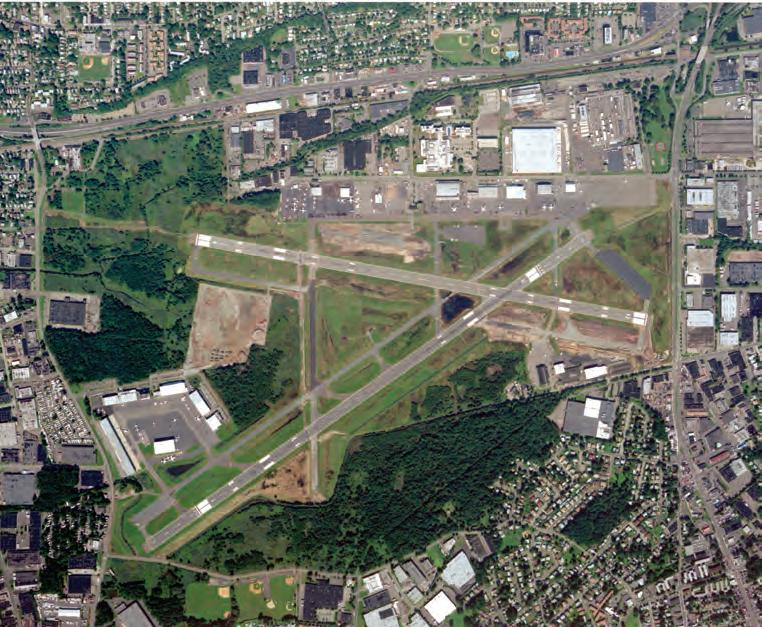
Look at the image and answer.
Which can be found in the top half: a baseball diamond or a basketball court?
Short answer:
baseball diamond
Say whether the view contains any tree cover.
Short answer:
Yes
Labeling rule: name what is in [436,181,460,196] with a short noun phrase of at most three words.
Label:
hangar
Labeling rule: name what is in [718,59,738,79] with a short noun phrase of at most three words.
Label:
building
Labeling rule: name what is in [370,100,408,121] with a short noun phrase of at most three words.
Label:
building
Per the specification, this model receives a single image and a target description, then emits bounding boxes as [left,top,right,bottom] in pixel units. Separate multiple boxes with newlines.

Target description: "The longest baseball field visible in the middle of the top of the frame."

[432,32,475,52]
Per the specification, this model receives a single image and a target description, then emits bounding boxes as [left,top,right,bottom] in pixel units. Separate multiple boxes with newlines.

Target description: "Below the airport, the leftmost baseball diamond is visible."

[186,583,231,622]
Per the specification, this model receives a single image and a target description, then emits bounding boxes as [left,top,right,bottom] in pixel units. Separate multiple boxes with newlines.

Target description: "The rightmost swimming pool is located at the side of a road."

[504,44,519,60]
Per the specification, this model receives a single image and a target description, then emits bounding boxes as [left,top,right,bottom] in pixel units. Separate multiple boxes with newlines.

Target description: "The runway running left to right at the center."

[195,234,649,326]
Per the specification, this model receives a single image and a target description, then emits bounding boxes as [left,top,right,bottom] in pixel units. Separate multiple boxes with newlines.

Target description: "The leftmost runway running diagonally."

[146,229,592,551]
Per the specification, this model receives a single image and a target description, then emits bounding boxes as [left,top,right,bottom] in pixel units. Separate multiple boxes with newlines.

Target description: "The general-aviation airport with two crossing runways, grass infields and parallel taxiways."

[109,178,657,553]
